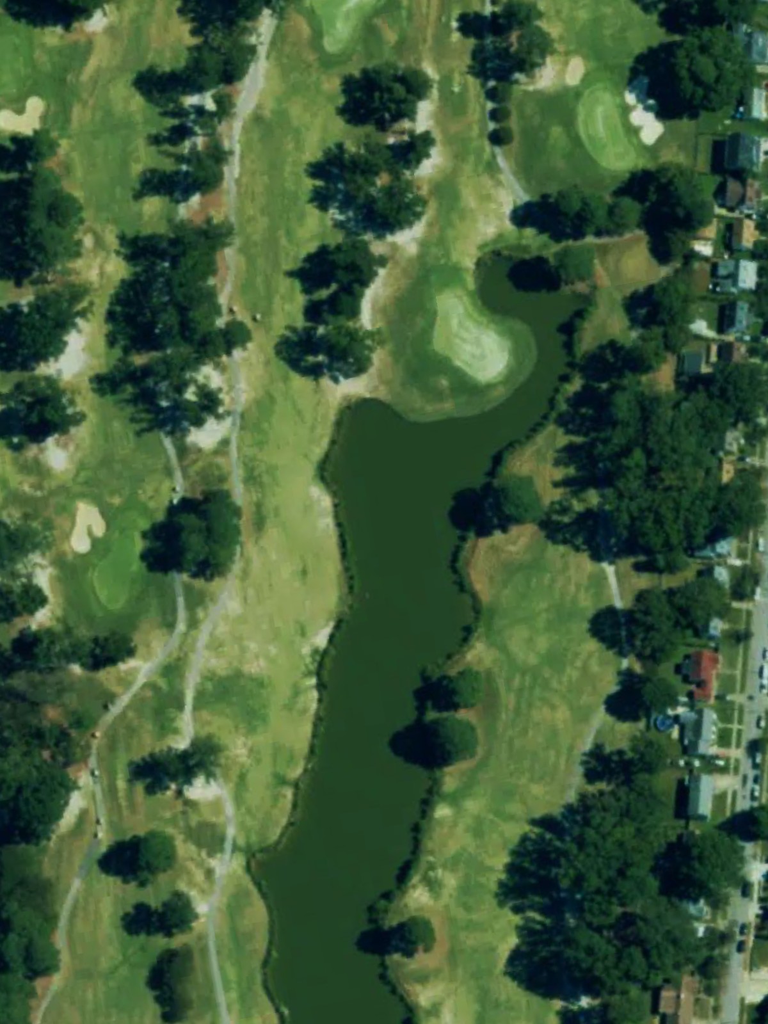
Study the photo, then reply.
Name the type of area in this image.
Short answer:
golf course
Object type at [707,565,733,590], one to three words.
house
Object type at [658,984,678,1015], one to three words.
shed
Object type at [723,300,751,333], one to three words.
house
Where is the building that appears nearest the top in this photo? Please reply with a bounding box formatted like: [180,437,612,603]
[734,30,768,62]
